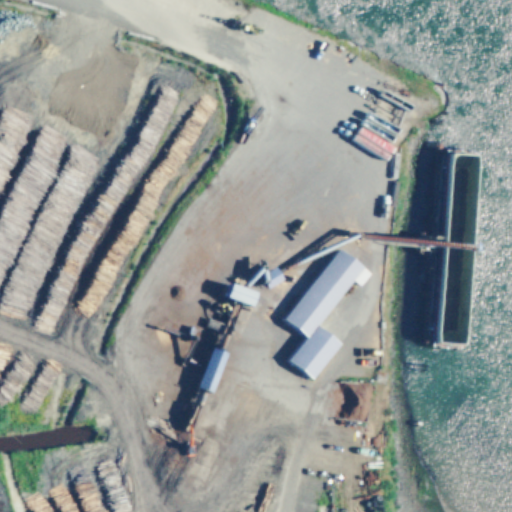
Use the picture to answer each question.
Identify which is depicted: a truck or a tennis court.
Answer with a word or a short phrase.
truck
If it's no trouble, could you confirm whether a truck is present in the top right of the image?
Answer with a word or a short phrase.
Yes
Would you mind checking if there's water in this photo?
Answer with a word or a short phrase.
Yes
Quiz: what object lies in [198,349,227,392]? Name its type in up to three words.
building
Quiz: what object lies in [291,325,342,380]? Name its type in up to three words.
shed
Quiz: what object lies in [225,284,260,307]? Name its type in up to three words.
house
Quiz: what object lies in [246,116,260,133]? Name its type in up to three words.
vehicle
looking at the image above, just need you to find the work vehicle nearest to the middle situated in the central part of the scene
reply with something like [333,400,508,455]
[292,215,310,238]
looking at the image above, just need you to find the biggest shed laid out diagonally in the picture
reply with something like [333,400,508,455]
[285,250,370,338]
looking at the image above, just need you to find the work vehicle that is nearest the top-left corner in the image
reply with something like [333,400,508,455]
[237,24,258,37]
